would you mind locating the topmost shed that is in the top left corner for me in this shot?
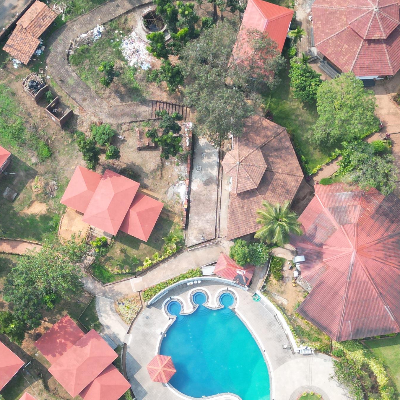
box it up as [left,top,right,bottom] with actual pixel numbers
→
[2,0,59,66]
